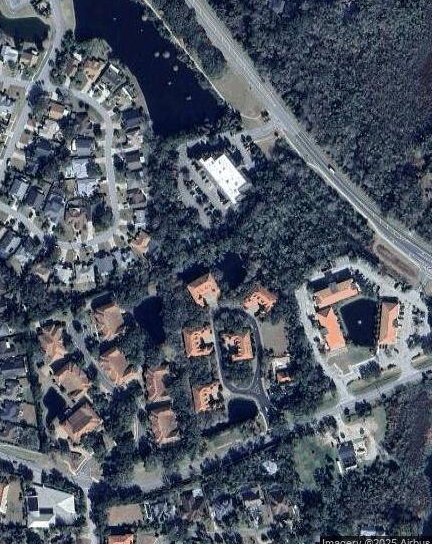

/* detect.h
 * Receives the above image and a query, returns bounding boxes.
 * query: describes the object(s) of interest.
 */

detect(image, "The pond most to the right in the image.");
[338,296,381,348]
